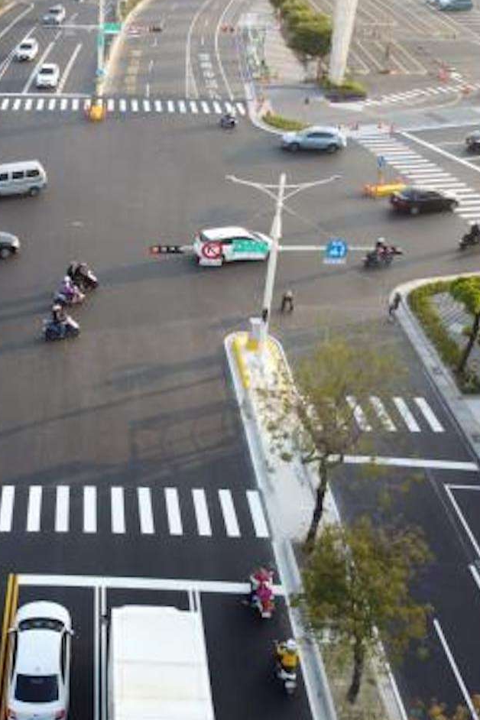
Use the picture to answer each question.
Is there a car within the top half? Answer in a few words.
Yes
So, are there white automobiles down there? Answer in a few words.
Yes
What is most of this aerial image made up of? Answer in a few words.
paved ground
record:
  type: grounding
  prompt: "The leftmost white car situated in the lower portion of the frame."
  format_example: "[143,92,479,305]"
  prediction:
[5,599,78,720]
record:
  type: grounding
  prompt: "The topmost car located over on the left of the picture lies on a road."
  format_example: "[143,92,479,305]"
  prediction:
[44,6,64,23]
